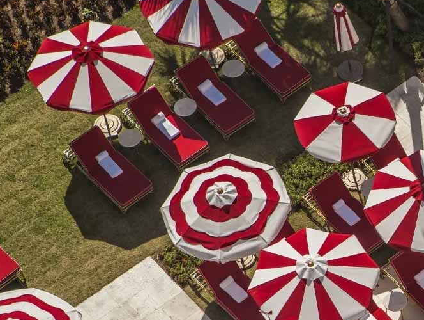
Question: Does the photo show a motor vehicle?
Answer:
No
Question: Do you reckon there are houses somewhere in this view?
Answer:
No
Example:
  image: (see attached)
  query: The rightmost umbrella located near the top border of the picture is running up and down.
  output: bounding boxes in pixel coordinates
[332,0,367,85]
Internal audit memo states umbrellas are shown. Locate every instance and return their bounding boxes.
[246,228,384,320]
[29,17,156,138]
[332,0,367,85]
[361,149,424,256]
[140,0,261,71]
[158,153,292,277]
[292,83,401,197]
[0,290,74,320]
